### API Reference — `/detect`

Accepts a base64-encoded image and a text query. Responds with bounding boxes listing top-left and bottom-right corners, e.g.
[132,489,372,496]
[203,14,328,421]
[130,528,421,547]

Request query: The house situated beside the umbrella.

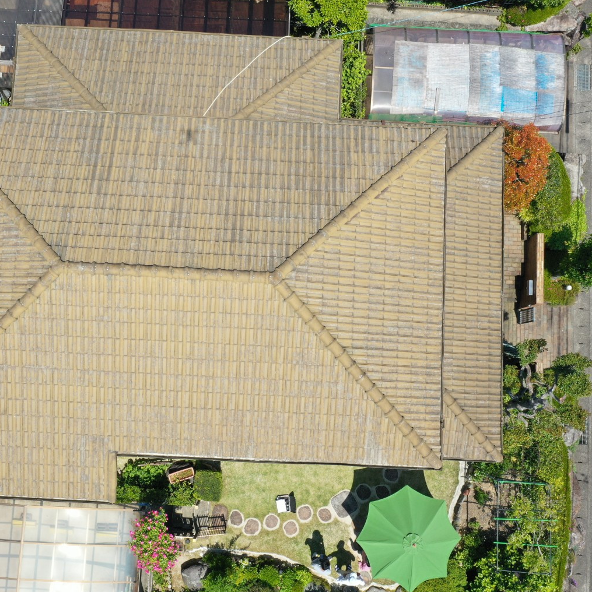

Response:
[0,23,508,506]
